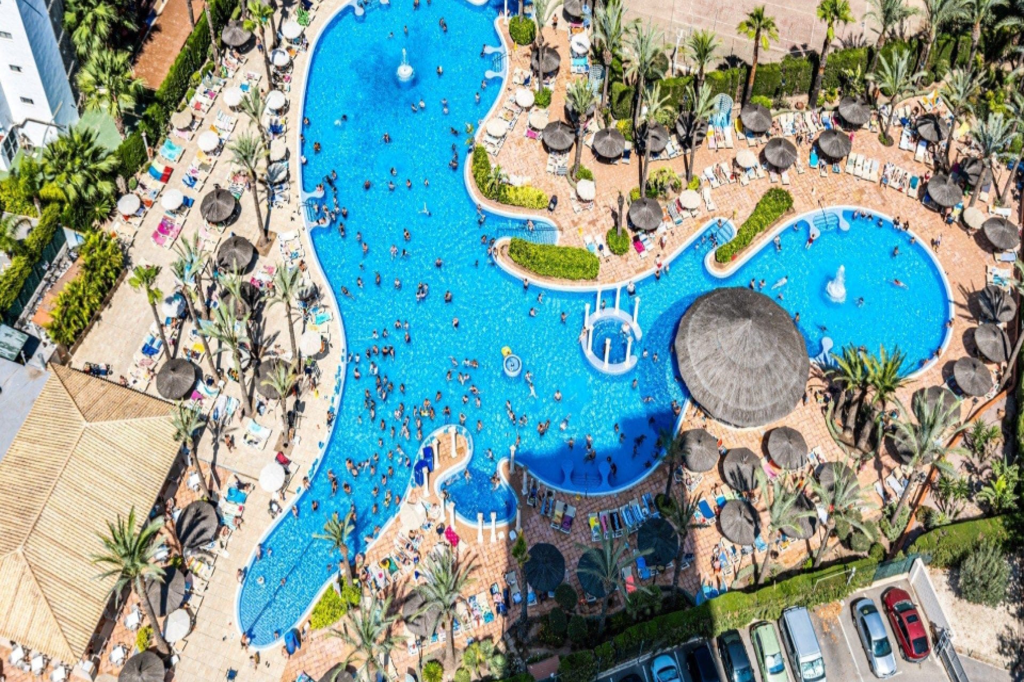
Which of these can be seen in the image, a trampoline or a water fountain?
water fountain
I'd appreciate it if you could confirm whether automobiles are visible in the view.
Yes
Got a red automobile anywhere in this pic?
Yes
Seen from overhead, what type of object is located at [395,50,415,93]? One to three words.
fountain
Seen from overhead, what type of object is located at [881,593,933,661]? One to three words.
car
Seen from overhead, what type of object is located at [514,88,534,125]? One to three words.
umbrella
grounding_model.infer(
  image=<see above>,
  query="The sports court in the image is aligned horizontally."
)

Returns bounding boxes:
[613,0,1003,78]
